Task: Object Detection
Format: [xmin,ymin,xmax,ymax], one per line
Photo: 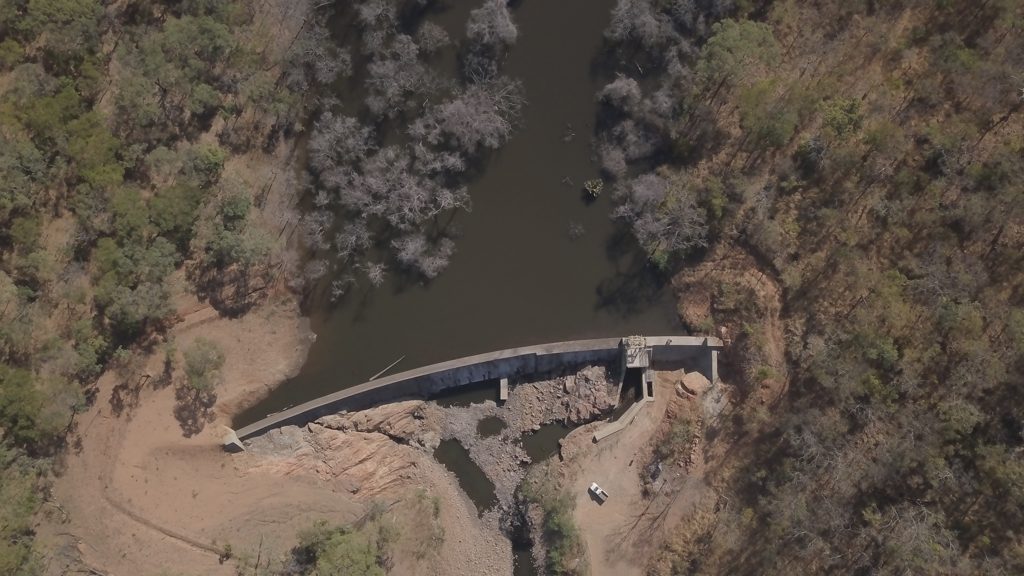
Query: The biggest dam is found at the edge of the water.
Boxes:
[222,335,724,452]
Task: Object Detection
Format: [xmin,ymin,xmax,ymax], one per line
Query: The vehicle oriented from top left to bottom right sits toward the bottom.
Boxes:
[589,484,609,505]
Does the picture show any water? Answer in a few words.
Yes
